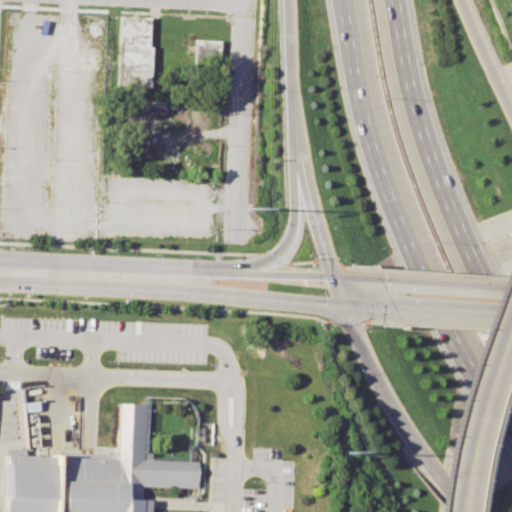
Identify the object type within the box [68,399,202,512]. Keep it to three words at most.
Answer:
building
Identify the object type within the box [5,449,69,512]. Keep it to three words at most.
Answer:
building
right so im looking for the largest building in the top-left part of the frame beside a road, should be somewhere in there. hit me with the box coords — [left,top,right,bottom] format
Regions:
[120,17,158,91]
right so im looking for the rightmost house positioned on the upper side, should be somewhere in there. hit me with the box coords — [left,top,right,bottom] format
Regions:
[196,40,224,66]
